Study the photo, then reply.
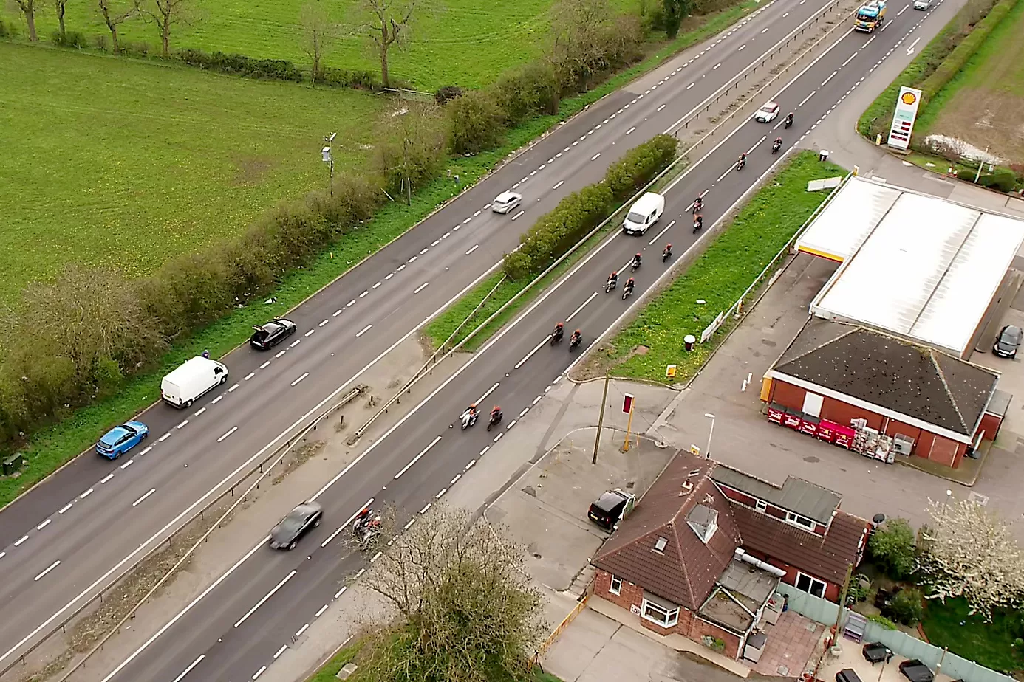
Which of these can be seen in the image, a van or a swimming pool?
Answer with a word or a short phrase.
van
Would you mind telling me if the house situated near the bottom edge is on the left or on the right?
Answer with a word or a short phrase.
right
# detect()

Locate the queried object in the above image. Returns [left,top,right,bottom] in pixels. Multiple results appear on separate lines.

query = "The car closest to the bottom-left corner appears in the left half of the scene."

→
[92,420,149,459]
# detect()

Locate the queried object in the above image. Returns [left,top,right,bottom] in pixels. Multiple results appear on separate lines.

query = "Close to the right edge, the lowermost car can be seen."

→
[992,319,1023,351]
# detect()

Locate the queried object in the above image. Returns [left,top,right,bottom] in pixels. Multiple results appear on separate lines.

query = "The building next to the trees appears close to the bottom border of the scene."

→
[585,449,885,662]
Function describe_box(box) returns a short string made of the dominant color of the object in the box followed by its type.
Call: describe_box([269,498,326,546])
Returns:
gray car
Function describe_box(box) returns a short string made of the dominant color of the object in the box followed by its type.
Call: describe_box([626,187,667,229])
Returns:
white van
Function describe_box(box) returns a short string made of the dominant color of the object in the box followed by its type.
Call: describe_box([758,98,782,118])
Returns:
white car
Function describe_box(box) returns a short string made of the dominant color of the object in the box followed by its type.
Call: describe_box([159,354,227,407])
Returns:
white van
